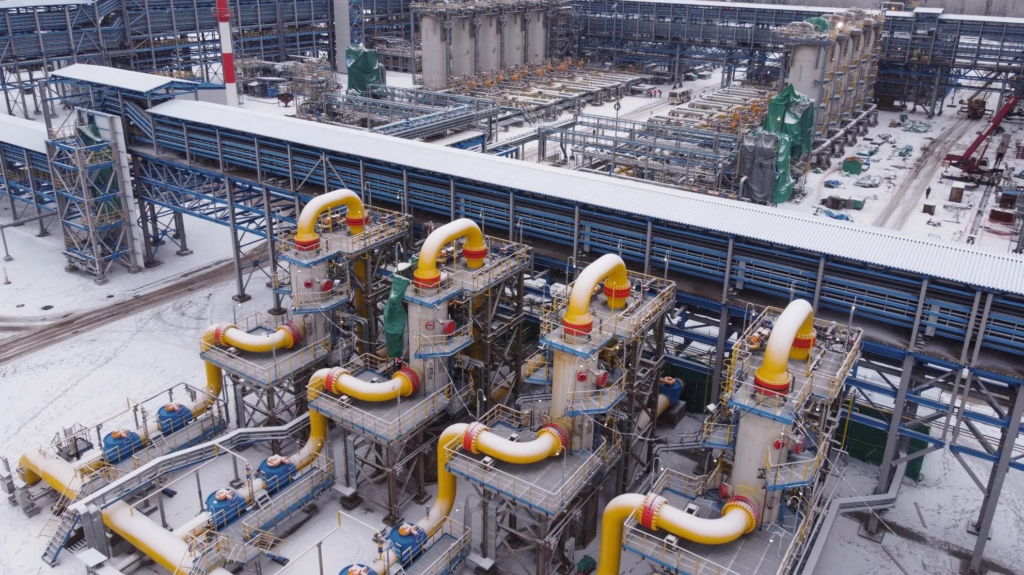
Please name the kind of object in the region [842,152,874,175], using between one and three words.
shed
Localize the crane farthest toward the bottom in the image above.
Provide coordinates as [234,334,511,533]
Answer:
[938,95,1024,190]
